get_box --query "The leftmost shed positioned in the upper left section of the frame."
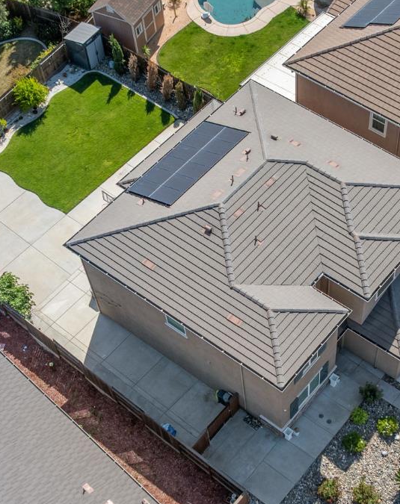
[66,14,107,69]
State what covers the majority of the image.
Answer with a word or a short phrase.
buildings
